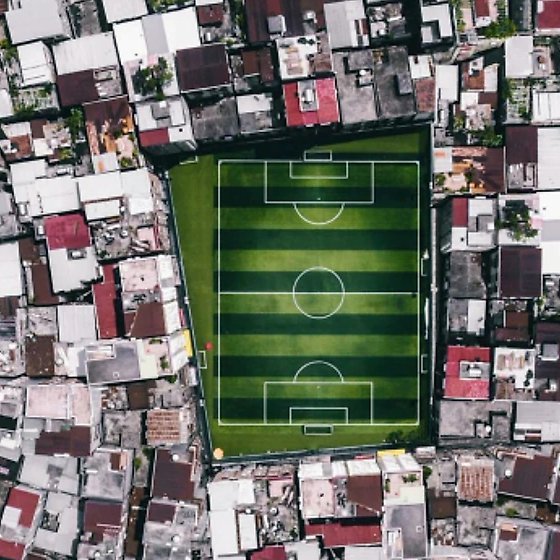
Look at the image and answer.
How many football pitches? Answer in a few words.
1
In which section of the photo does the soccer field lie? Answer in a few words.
center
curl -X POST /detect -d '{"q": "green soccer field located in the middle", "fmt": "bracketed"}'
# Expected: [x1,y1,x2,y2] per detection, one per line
[169,125,433,463]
